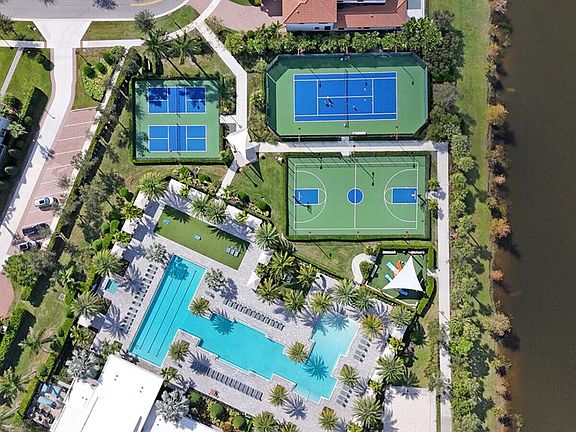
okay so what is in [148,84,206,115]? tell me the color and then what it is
blue sports court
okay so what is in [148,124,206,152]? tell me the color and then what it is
blue sports court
